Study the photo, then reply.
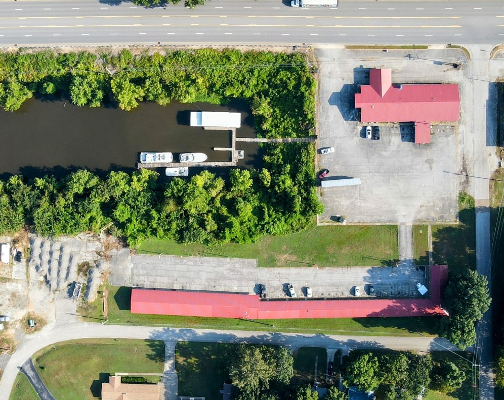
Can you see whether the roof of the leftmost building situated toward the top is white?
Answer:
No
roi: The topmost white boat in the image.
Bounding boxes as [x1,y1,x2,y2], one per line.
[190,111,241,126]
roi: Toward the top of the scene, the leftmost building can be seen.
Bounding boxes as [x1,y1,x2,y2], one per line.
[354,68,460,143]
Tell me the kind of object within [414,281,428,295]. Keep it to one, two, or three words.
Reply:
vehicle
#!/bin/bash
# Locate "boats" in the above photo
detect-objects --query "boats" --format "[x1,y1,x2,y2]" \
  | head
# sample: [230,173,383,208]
[180,153,207,163]
[190,111,241,126]
[166,168,188,177]
[140,153,173,163]
[237,151,243,160]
